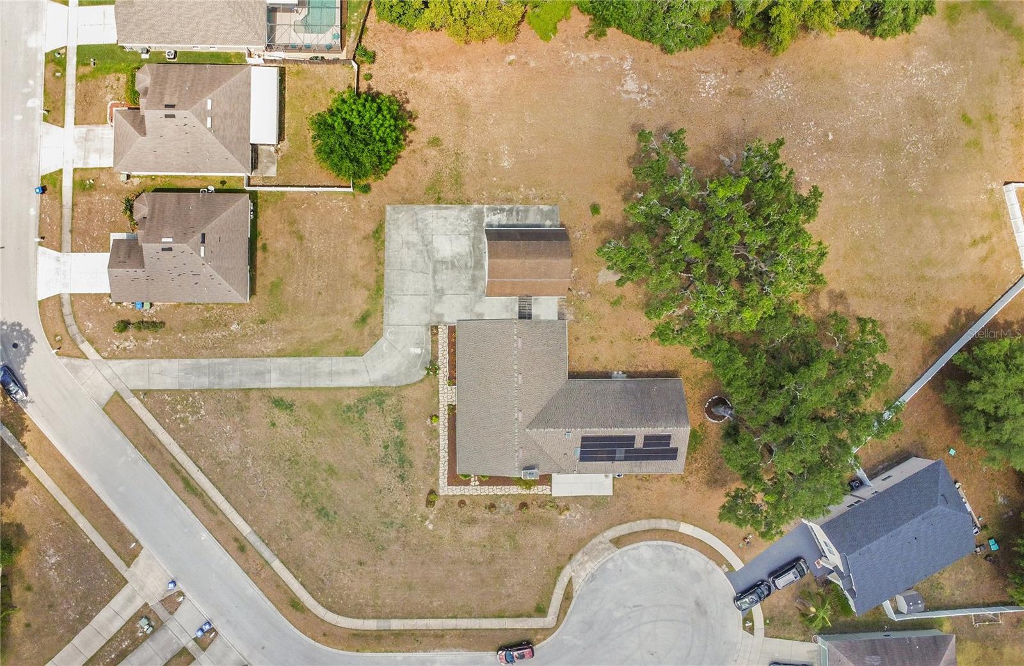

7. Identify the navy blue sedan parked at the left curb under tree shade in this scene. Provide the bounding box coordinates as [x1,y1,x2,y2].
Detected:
[0,363,30,405]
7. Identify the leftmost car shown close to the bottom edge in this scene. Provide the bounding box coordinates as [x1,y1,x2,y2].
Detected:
[497,640,535,665]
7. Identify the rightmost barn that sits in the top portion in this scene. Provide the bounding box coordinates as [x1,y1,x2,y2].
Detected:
[484,227,571,297]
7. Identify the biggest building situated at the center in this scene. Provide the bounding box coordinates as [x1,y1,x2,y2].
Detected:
[456,318,690,480]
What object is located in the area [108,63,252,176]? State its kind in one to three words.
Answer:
house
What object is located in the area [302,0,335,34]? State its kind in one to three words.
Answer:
swimming pool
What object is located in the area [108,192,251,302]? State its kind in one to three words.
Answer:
house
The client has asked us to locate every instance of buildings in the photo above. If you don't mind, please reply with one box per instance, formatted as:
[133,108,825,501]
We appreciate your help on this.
[114,0,267,53]
[108,63,252,176]
[456,318,690,480]
[817,631,958,666]
[807,458,976,617]
[484,227,571,297]
[108,192,251,302]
